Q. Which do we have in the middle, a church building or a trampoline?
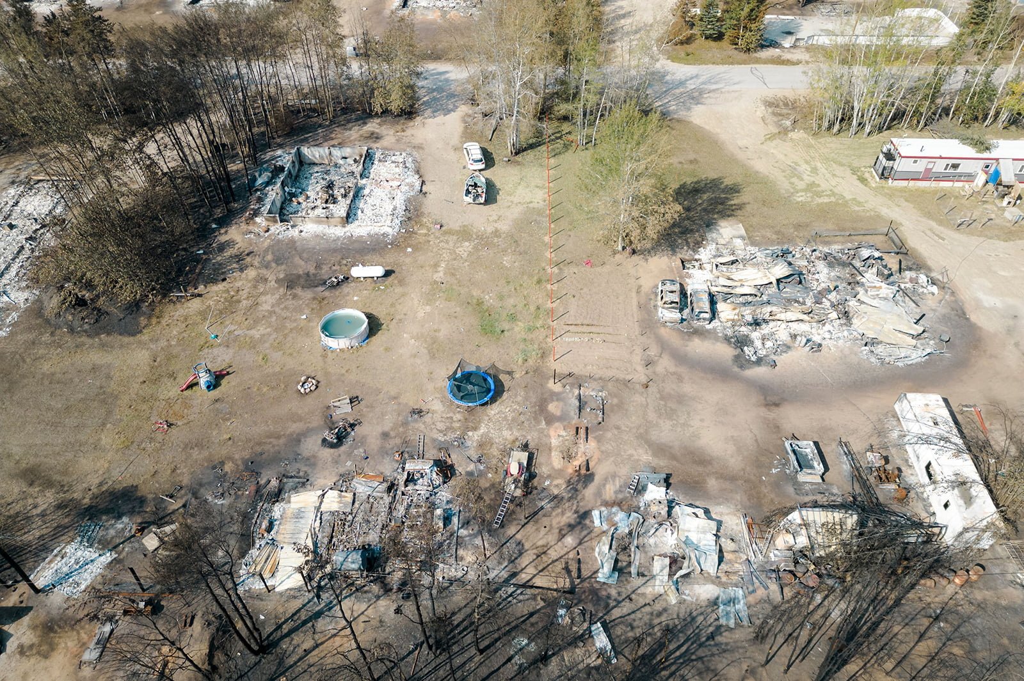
trampoline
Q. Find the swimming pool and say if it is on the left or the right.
left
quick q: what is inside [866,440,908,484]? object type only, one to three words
work vehicle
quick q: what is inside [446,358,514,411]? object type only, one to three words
trampoline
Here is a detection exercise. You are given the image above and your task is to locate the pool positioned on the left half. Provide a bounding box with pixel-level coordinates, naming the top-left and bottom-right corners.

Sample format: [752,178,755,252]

[318,308,371,350]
